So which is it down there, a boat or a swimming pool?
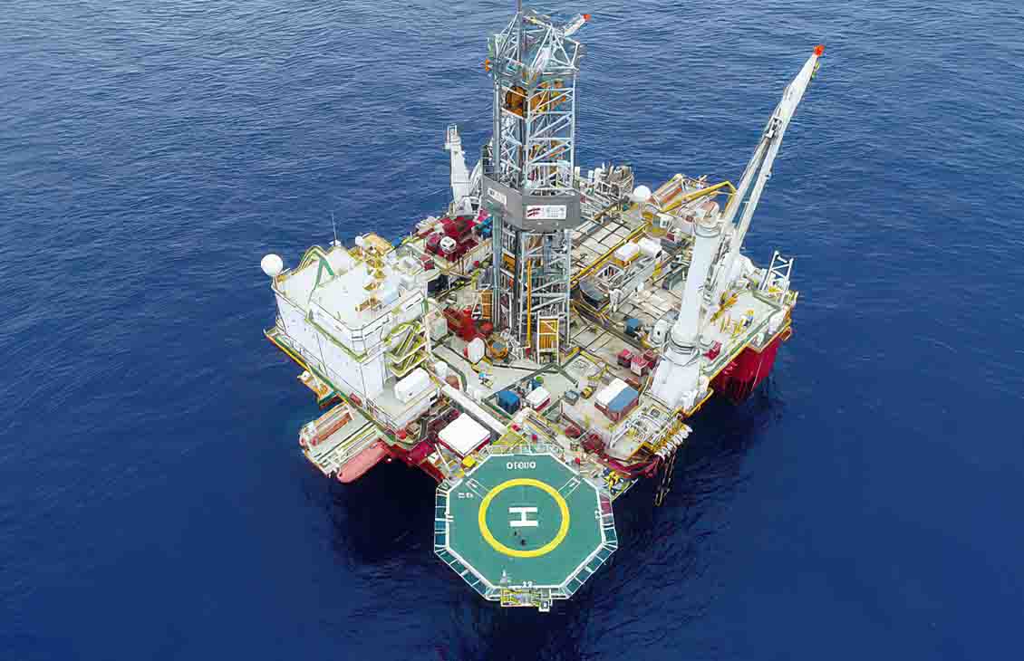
boat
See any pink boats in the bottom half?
Yes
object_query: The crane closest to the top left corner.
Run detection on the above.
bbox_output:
[446,128,494,226]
